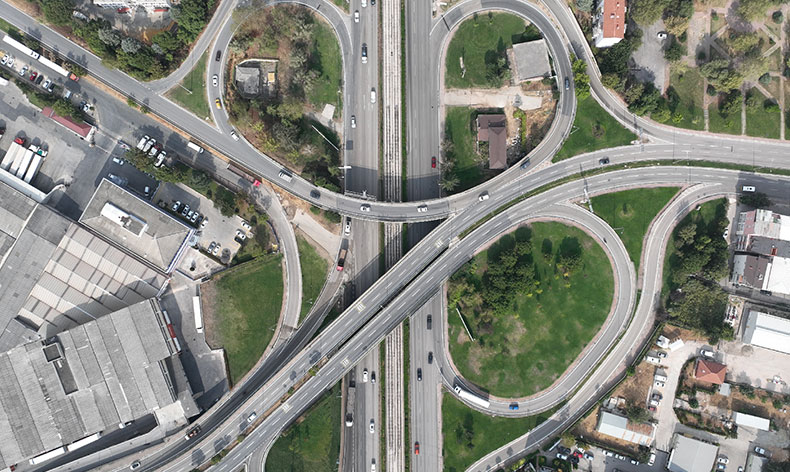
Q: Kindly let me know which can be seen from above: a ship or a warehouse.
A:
warehouse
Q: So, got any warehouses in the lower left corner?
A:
Yes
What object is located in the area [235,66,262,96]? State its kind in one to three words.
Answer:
house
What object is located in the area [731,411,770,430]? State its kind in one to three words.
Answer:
shed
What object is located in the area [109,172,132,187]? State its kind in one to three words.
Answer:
vehicle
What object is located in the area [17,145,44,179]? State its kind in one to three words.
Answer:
truck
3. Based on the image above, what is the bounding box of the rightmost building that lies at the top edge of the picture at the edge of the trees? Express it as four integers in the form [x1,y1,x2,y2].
[591,0,624,47]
